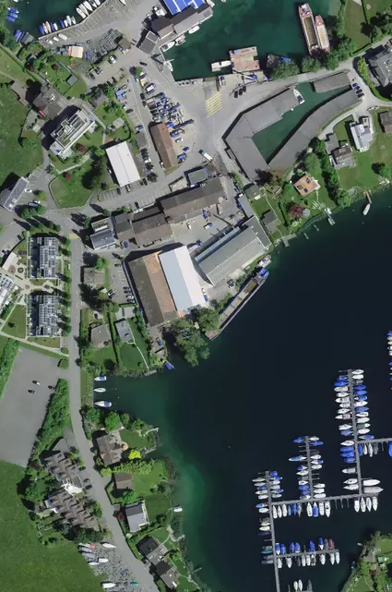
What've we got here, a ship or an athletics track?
ship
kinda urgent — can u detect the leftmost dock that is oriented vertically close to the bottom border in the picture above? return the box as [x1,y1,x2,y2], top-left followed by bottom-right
[258,471,280,592]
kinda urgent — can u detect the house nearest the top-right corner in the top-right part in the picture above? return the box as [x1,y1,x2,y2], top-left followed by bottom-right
[368,48,392,87]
